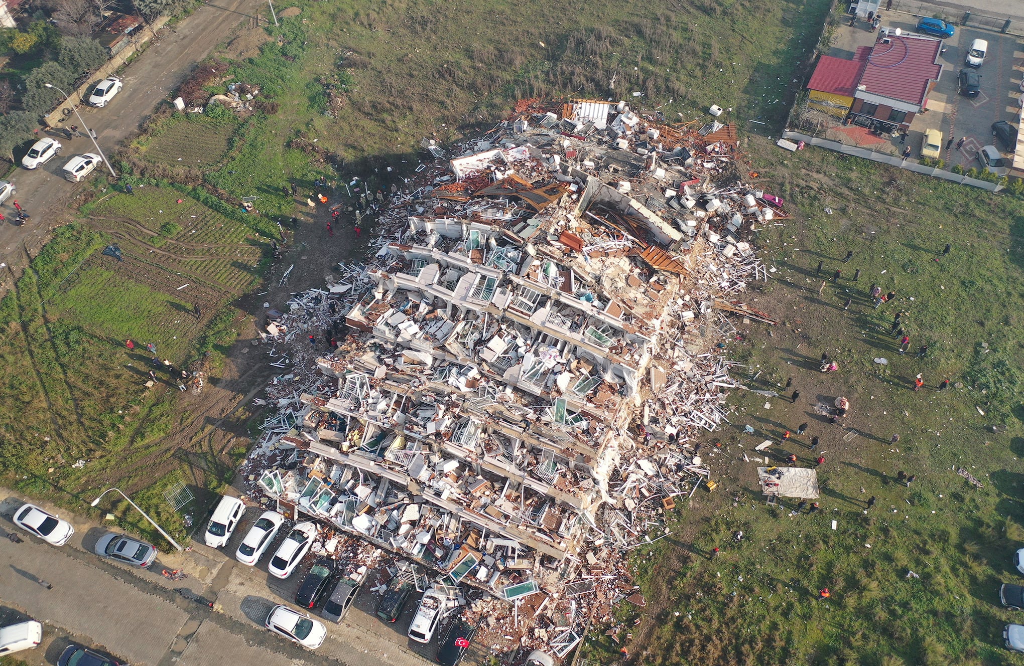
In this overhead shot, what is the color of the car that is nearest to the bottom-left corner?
white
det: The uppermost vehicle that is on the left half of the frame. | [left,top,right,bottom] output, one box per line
[86,79,123,109]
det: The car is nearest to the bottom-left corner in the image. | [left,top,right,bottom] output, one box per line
[0,620,54,661]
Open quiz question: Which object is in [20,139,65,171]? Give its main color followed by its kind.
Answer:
white car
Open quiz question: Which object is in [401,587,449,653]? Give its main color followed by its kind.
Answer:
white car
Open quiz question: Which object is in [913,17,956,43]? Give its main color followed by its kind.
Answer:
blue car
